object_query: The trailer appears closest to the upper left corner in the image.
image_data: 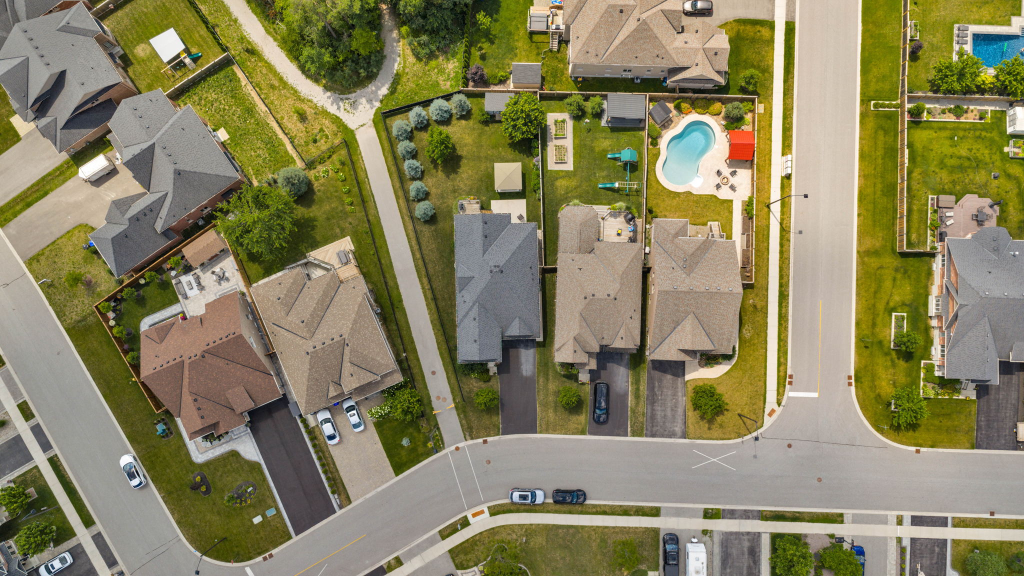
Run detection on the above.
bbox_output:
[74,150,118,183]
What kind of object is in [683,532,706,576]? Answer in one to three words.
vehicle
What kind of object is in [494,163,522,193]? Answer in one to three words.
gazebo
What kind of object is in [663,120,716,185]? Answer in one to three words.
swimming pool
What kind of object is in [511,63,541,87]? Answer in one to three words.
shed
